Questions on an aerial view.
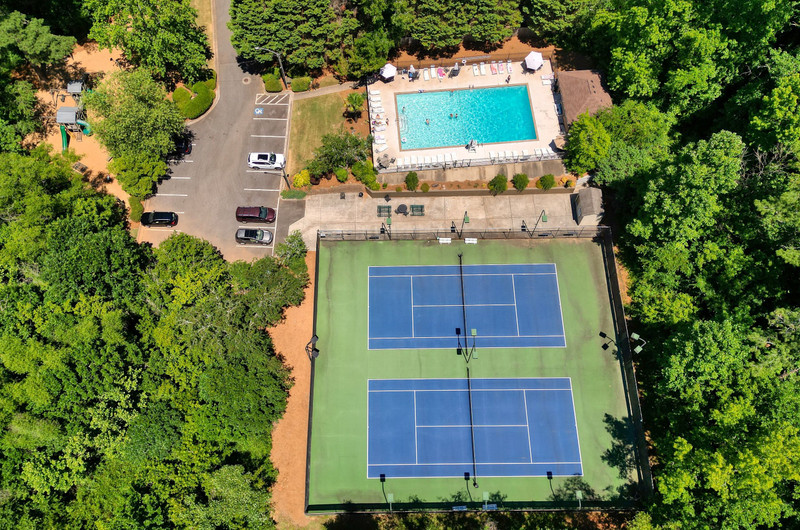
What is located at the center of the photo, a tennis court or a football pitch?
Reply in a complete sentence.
There is a tennis court at the center of the photo.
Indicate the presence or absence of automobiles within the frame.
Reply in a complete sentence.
Yes, an automobile is visible in the scene.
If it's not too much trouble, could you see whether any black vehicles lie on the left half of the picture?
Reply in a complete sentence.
Yes, on the left half of the picture there is a black vehicle.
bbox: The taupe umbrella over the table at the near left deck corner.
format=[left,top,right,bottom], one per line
[377,156,393,173]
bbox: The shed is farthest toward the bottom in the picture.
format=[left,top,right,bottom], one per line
[575,181,610,224]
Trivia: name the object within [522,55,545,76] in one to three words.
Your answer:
umbrella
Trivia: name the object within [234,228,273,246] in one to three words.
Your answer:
car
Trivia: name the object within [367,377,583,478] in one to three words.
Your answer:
tennis court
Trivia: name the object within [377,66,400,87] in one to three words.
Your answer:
umbrella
